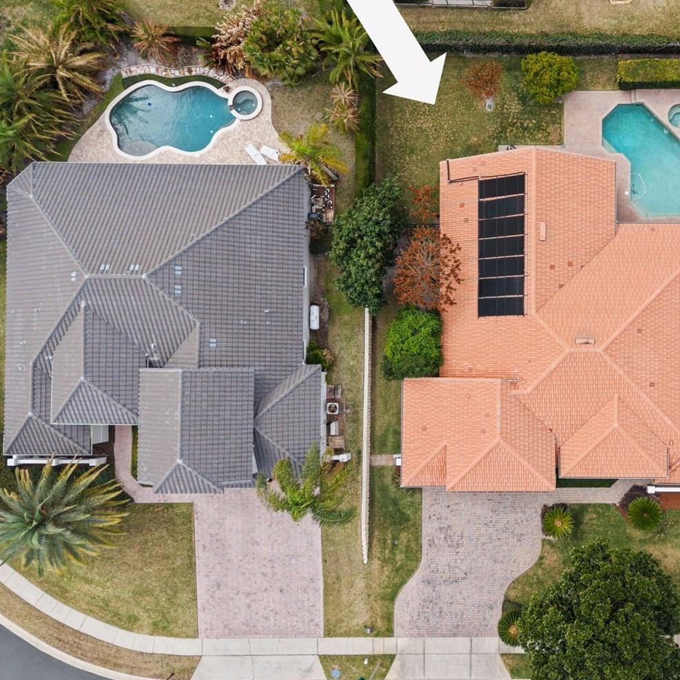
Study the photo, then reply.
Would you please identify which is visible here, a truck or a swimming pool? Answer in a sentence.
Looking from above, you can make out a swimming pool.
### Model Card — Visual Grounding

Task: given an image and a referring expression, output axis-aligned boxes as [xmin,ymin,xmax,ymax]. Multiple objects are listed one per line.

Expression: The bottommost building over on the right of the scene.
[398,146,680,494]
